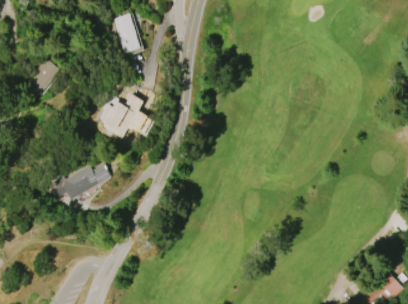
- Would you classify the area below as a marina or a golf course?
golf course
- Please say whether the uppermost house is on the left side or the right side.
left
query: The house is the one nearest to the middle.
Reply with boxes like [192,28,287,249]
[100,94,155,138]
